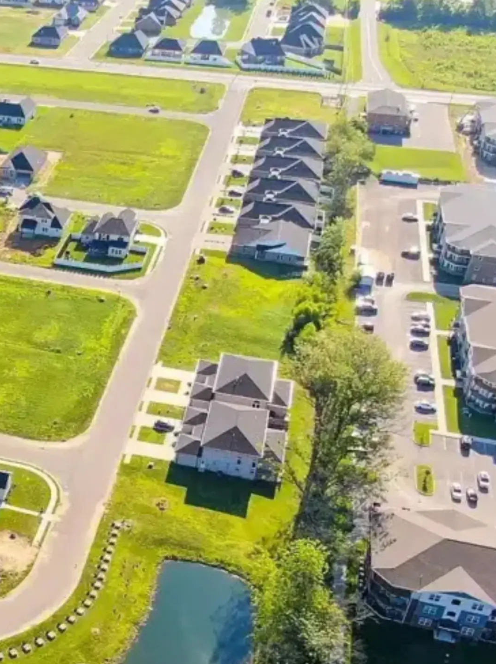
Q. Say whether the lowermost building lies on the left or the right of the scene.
right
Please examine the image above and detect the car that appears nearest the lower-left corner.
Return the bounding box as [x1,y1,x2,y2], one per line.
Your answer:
[149,415,173,429]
